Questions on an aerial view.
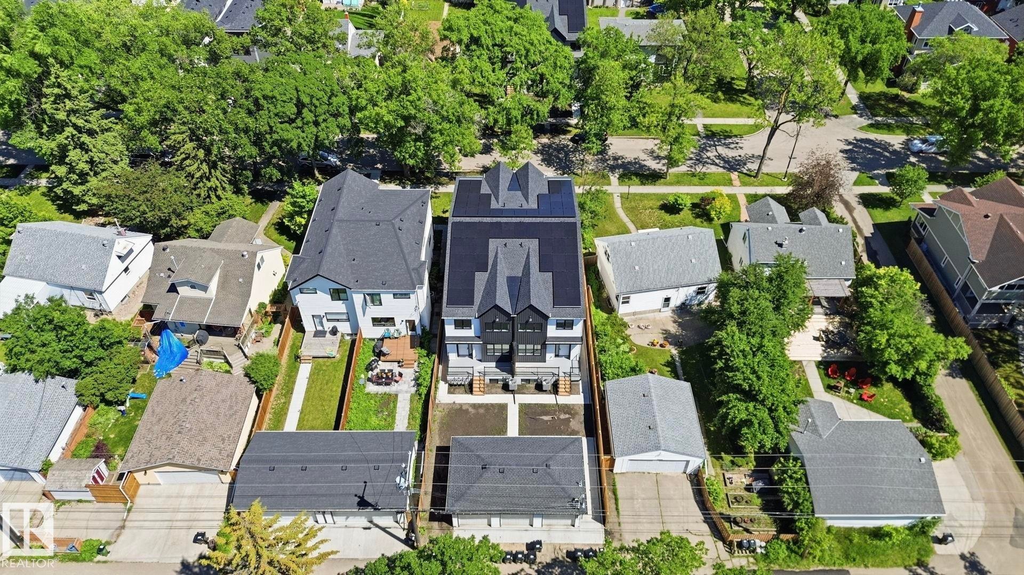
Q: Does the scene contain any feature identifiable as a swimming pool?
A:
No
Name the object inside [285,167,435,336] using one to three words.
house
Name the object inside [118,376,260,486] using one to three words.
building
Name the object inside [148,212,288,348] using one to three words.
house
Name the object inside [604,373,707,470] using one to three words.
building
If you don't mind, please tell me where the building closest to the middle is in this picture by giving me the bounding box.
[441,158,586,404]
